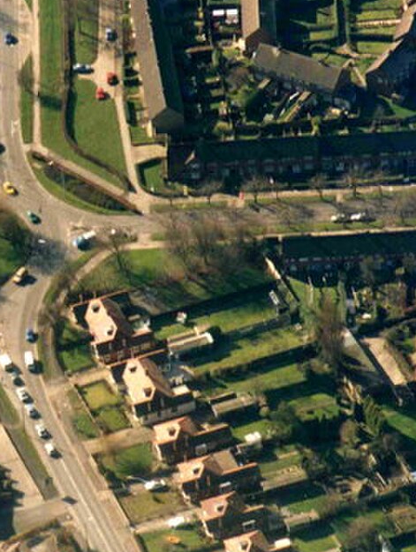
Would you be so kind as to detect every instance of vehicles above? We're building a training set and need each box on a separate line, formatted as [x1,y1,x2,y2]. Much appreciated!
[14,267,27,282]
[146,480,167,490]
[26,211,40,224]
[35,423,49,438]
[70,227,97,250]
[25,403,37,418]
[10,370,24,385]
[109,72,116,85]
[329,214,348,223]
[112,484,132,495]
[58,495,79,505]
[96,88,106,100]
[3,182,17,195]
[0,356,12,371]
[18,388,30,403]
[5,33,12,44]
[350,212,368,221]
[75,64,92,73]
[27,328,34,342]
[46,441,58,457]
